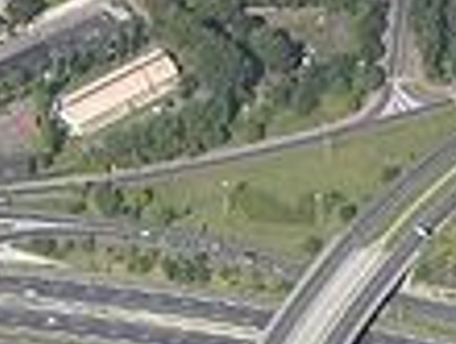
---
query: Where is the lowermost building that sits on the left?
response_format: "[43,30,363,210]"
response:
[52,49,181,142]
